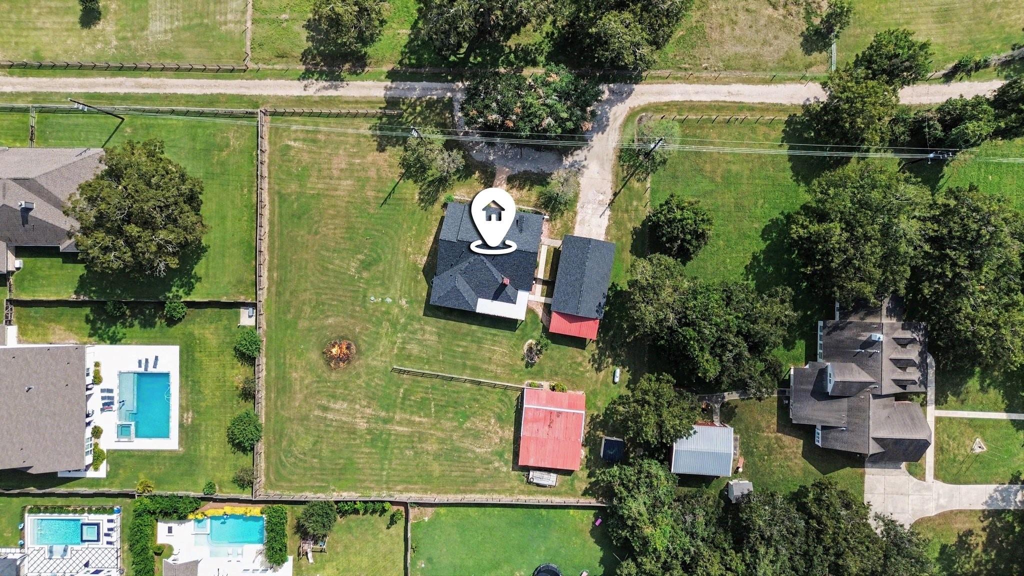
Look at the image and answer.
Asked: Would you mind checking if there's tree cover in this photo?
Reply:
Yes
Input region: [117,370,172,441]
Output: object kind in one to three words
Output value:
swimming pool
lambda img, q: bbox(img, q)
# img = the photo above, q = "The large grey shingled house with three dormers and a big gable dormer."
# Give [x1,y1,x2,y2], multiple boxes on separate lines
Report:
[788,283,931,461]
